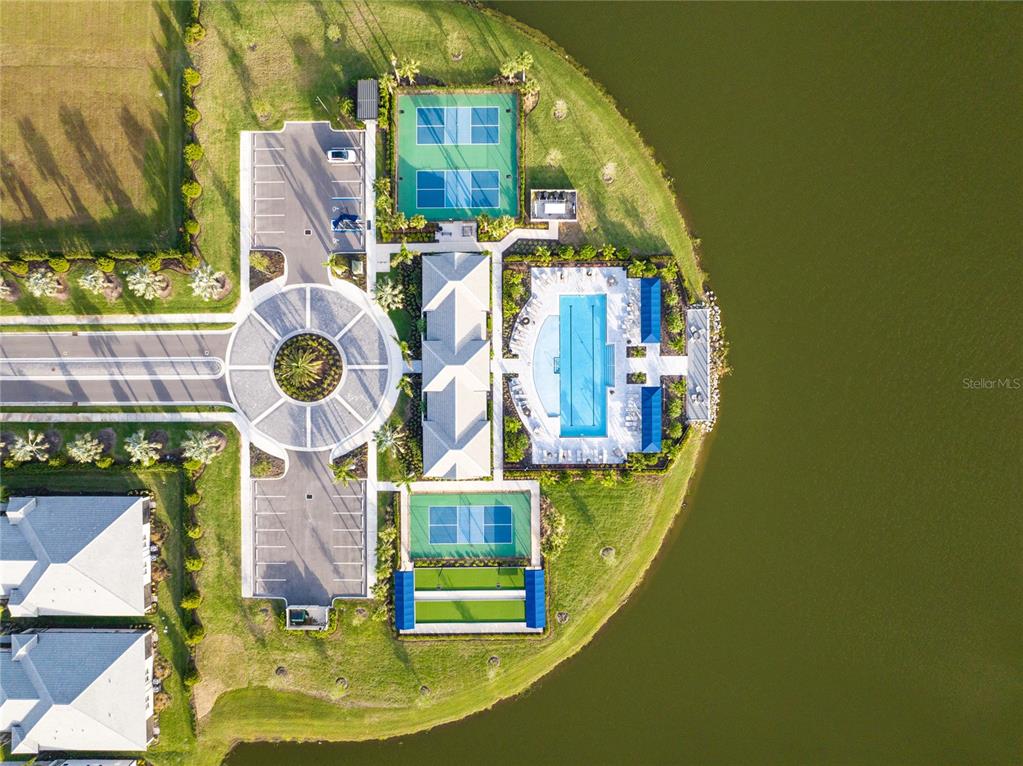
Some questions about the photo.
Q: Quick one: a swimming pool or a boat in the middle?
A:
swimming pool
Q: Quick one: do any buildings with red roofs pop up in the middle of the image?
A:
No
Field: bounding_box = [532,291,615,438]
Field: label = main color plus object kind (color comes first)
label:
blue swimming pool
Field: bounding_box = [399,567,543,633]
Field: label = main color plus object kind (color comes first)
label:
green sports court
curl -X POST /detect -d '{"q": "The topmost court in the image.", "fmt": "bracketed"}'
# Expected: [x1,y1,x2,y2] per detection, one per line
[397,93,520,223]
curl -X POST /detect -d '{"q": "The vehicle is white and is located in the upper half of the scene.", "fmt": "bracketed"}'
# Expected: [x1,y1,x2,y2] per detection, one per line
[327,147,356,162]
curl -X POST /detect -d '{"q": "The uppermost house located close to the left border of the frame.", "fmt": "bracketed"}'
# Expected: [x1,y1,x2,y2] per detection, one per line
[0,496,150,617]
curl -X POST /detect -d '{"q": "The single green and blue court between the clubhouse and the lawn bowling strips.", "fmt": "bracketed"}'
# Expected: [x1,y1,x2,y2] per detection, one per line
[409,491,532,560]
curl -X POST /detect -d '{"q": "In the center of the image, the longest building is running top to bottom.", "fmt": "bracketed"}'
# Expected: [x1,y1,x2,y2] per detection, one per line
[422,251,491,481]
